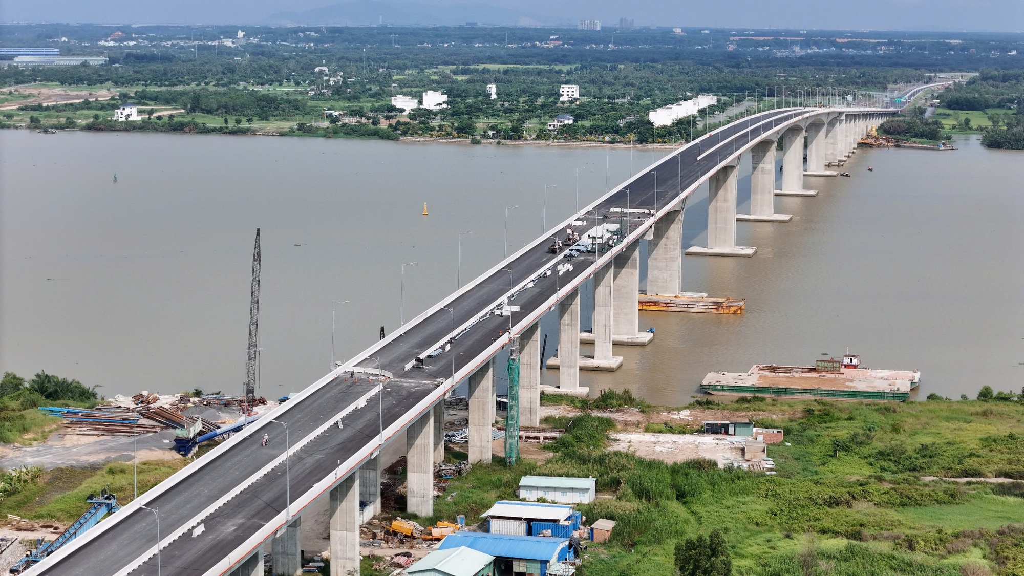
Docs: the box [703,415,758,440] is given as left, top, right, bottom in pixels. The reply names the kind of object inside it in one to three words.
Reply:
shed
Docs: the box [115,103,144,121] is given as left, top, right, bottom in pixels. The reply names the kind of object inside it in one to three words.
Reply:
house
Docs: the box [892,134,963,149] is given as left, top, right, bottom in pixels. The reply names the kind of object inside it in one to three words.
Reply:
ship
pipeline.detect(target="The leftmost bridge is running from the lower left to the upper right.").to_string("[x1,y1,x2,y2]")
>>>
[17,107,900,576]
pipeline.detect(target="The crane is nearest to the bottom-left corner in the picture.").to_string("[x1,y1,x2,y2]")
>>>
[238,226,261,417]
